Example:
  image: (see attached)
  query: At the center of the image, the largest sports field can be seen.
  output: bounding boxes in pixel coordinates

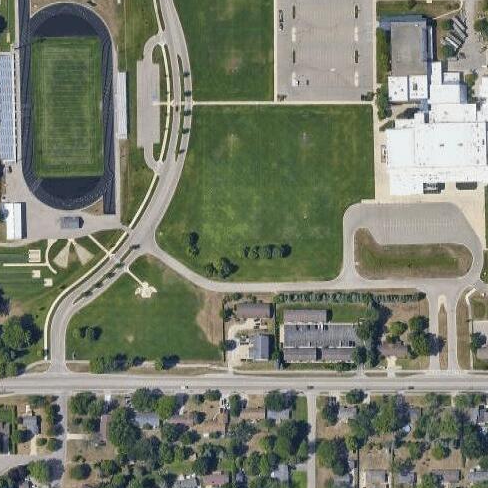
[154,105,373,282]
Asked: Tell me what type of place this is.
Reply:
sports ground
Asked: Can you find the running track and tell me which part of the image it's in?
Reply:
top left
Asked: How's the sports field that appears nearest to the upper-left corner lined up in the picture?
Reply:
vertically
